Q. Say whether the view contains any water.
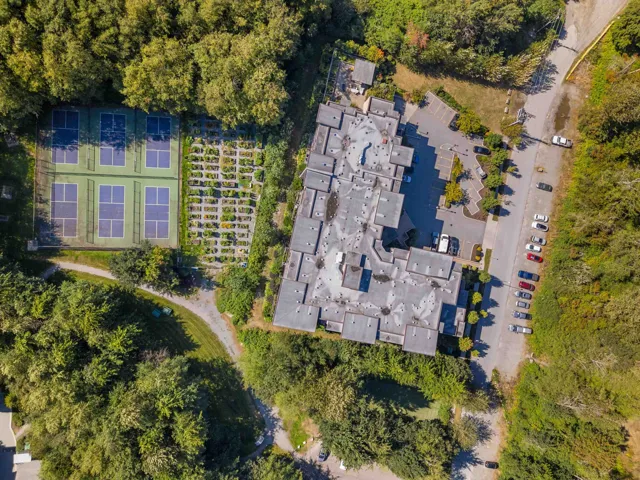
No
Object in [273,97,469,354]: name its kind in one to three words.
building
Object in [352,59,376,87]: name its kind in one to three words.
building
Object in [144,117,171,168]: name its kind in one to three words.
sports court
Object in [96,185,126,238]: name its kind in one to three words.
sports court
